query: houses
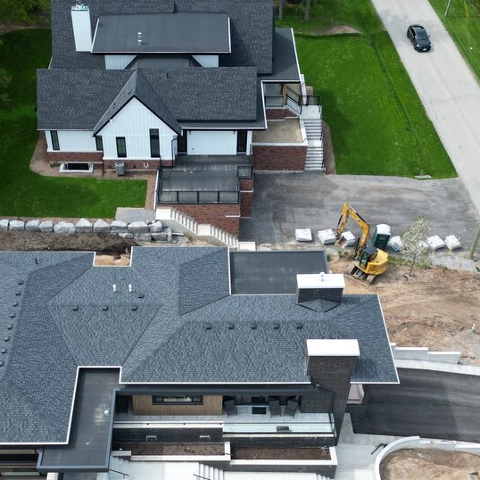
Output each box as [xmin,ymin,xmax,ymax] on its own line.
[36,0,302,170]
[0,247,403,480]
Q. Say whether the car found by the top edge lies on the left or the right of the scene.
right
